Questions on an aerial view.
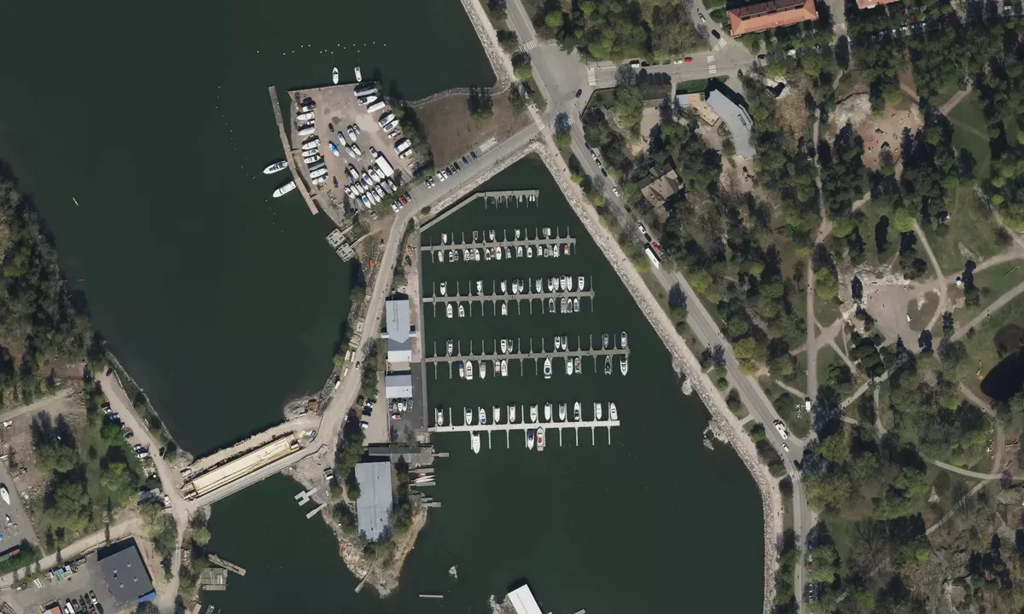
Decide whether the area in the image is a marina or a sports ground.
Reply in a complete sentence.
This image shows a marina.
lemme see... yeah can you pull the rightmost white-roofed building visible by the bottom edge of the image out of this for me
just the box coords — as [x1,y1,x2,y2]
[508,584,542,614]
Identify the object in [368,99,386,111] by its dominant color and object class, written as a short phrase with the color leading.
white boat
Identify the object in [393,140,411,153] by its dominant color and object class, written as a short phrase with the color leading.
white boat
